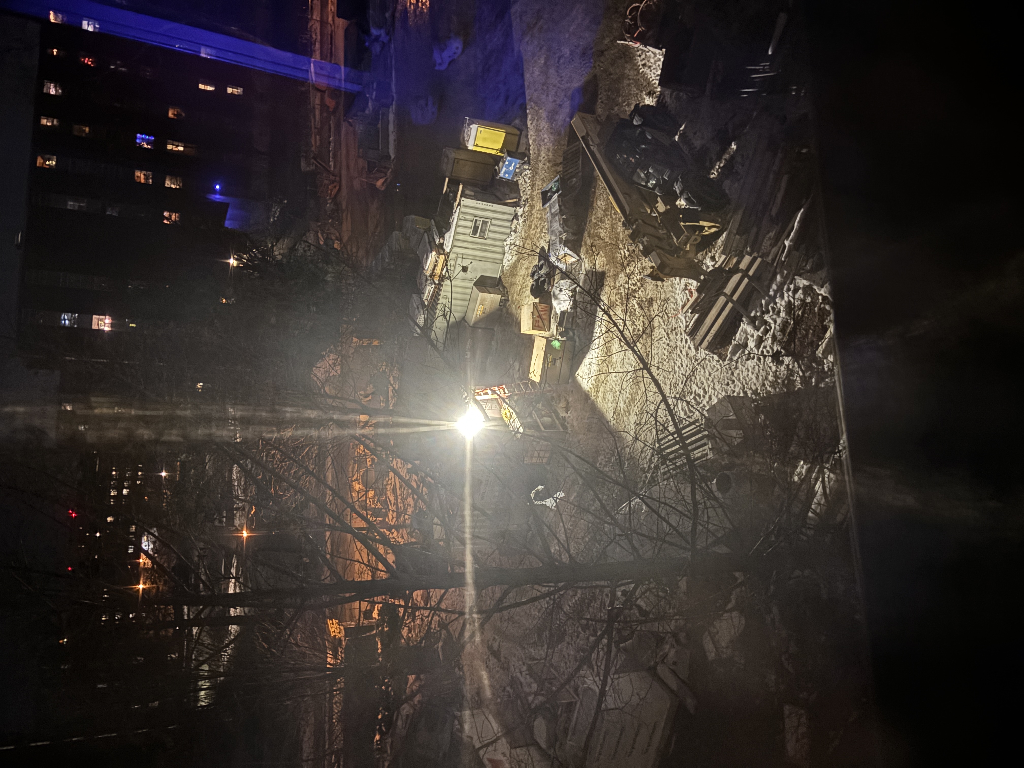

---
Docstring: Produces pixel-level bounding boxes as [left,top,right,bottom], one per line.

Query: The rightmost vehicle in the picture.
[572,104,704,331]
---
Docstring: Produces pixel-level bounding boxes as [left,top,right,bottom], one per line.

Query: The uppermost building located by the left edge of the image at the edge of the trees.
[15,0,265,388]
